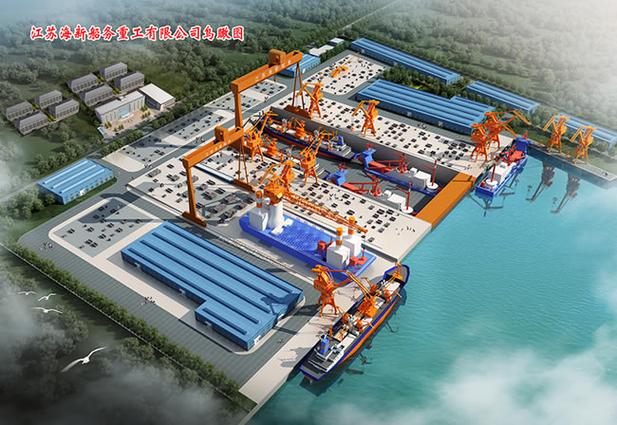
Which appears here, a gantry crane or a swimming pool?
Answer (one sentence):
I can see a gantry crane in this picture.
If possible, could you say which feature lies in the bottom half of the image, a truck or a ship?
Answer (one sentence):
Visible in the bottom half of the image is a ship.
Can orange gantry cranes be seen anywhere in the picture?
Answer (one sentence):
Yes, the photo shows an orange gantry crane.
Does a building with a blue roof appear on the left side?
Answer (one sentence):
Yes, a building with a blue roof is visible on the left side.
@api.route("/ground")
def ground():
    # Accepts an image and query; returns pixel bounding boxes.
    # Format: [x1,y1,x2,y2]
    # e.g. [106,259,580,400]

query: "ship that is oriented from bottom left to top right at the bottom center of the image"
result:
[304,265,415,380]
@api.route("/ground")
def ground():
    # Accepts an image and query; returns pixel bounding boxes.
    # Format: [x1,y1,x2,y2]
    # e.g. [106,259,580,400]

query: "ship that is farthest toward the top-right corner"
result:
[477,128,542,197]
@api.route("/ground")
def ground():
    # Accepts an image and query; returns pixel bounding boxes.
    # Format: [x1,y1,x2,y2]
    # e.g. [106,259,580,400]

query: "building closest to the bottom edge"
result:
[119,220,305,350]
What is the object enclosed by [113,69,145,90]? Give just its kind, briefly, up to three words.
building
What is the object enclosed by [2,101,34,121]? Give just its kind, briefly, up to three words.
building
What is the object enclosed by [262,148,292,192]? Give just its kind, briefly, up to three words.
crane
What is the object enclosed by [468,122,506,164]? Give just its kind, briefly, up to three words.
crane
